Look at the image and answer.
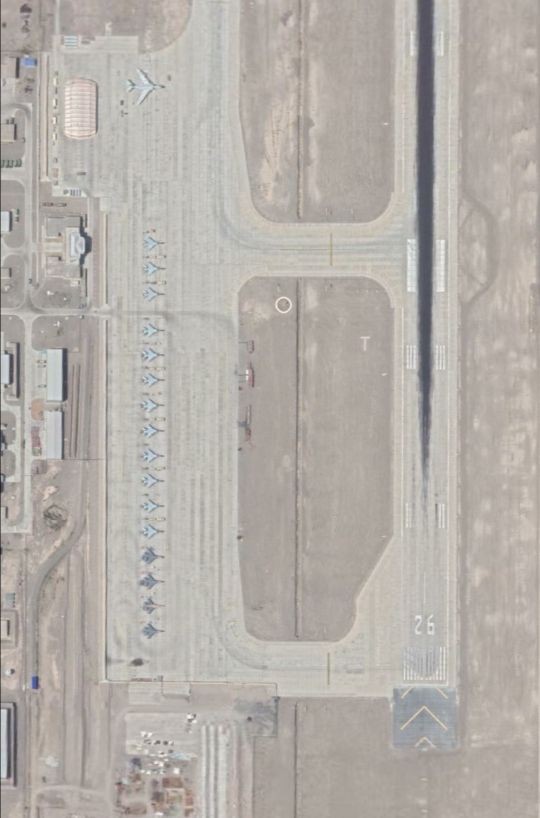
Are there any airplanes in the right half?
No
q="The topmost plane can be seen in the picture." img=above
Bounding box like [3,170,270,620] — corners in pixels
[127,68,165,104]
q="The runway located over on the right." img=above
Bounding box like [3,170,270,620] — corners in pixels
[394,0,457,686]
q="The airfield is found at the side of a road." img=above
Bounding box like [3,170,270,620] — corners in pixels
[52,0,457,748]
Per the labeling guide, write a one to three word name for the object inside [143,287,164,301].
airplane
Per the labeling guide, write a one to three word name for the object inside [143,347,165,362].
airplane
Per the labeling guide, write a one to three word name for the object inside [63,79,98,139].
hangar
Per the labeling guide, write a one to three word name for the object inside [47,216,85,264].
building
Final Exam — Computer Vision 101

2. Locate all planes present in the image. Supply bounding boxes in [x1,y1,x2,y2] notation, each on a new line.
[143,624,165,638]
[143,287,164,301]
[143,524,165,538]
[143,347,165,362]
[143,424,166,439]
[143,261,164,276]
[143,324,166,338]
[143,574,166,589]
[143,598,165,613]
[127,68,165,104]
[143,499,165,513]
[143,398,165,412]
[143,236,165,250]
[144,373,165,387]
[143,550,164,564]
[143,449,165,463]
[144,474,164,488]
